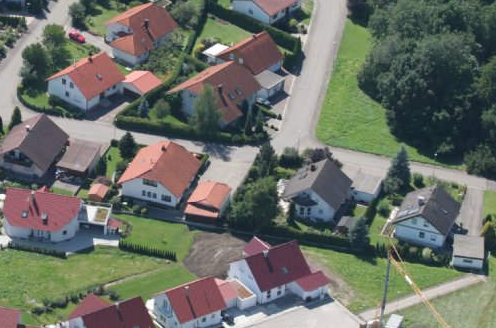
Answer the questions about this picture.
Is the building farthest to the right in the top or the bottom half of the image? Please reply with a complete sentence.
The building farthest to the right is in the bottom half of the image.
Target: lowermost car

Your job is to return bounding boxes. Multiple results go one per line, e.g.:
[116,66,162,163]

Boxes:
[221,310,237,326]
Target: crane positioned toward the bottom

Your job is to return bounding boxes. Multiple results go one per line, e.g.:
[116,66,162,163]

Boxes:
[374,235,453,328]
